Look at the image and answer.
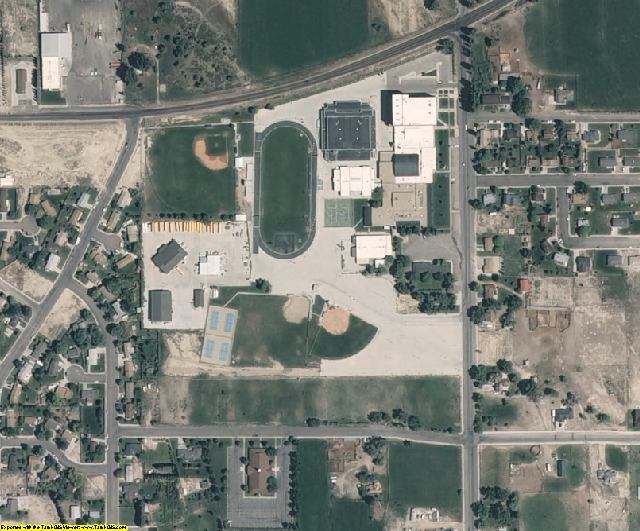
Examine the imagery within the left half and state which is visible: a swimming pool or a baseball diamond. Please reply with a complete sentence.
What appears within the left half is a baseball diamond.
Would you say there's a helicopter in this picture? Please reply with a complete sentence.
No, no helicopter is visible in the view.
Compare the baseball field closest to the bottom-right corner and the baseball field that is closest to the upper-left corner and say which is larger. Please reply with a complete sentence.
The baseball field that is closest to the upper-left corner takes up more space than the baseball field closest to the bottom-right corner does.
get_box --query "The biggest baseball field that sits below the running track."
[227,294,309,367]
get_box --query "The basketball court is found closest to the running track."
[324,199,354,226]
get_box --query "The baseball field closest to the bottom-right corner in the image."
[306,296,378,367]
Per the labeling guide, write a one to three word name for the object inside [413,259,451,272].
house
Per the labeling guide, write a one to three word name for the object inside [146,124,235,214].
baseball field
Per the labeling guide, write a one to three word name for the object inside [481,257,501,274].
house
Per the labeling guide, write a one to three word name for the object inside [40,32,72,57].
building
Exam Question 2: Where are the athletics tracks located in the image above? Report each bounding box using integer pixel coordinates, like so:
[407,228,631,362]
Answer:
[254,121,317,259]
